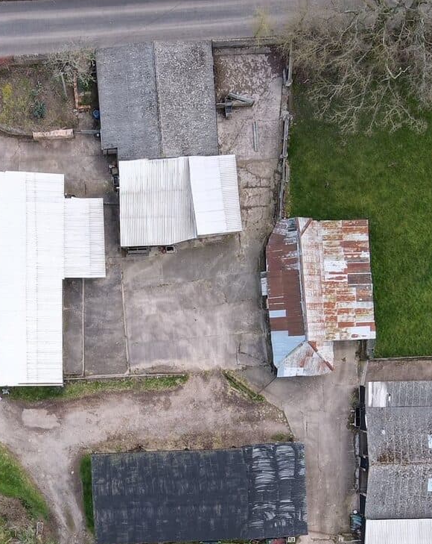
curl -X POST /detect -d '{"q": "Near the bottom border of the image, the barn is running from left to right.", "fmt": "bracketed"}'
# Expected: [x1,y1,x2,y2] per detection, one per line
[91,443,309,544]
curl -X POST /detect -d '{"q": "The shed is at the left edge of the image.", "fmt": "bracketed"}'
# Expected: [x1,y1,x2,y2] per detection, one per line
[0,171,106,387]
